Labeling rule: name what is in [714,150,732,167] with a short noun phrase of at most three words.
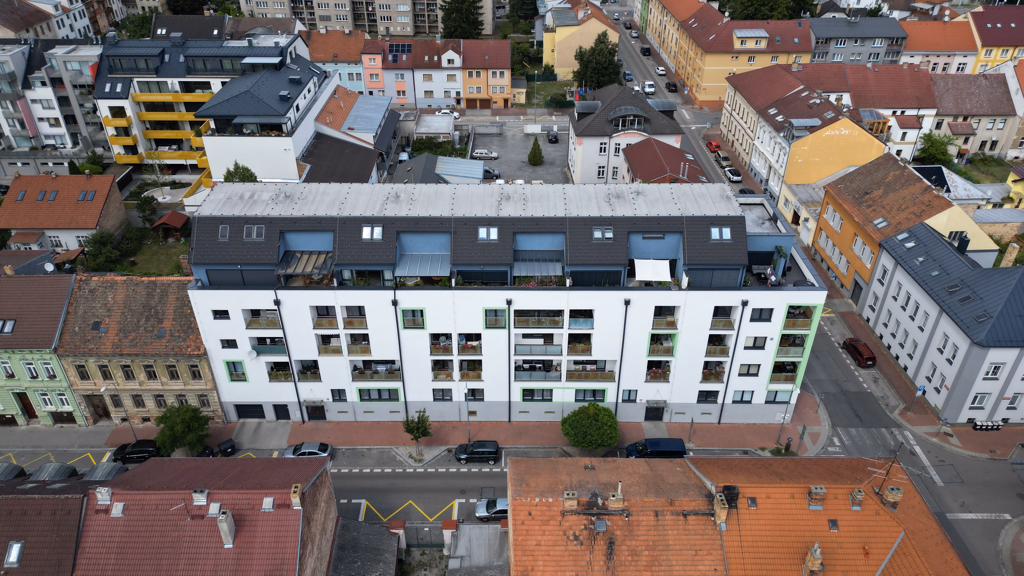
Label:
car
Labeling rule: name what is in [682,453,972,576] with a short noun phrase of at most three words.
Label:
house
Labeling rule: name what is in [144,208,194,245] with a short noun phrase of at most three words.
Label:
gazebo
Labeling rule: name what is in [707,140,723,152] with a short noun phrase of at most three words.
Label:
vehicle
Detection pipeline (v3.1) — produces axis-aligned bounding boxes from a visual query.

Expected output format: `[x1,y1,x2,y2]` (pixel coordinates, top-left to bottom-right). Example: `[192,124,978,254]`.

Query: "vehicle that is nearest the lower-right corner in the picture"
[844,341,879,371]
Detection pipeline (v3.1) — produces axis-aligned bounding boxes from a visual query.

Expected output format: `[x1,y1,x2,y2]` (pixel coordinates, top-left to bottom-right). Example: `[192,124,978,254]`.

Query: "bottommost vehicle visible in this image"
[477,492,508,520]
